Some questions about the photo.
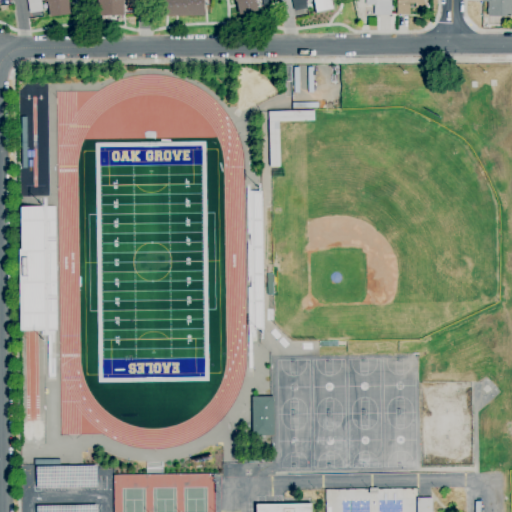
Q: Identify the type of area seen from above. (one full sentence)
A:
The picture captures a sports ground.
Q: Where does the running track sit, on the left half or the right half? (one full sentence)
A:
You can find the running track on the left side of the picture.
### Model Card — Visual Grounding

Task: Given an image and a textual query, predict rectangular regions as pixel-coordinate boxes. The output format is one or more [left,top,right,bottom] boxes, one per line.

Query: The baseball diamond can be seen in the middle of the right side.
[273,107,500,339]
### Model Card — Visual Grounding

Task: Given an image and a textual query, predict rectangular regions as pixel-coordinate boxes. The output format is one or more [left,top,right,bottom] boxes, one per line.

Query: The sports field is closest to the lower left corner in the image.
[79,138,227,428]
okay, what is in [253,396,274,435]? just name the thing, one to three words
building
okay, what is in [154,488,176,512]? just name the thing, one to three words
tennis court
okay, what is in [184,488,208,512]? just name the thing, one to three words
tennis court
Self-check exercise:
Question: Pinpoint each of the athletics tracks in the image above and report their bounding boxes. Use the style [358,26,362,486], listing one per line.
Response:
[58,74,248,449]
